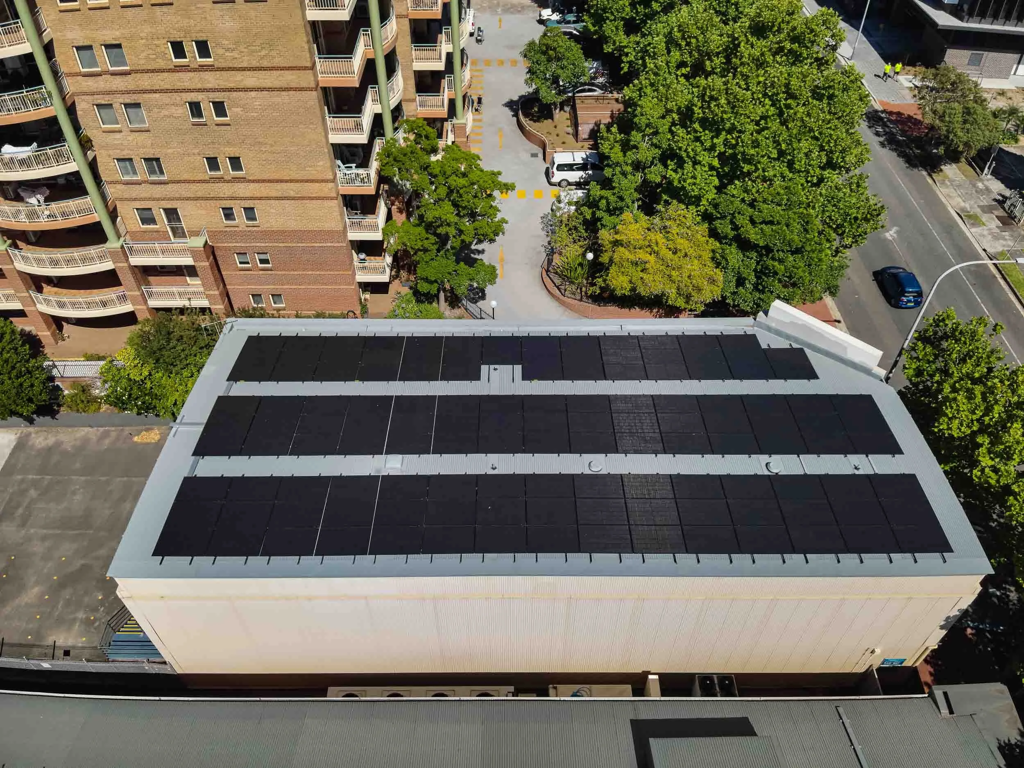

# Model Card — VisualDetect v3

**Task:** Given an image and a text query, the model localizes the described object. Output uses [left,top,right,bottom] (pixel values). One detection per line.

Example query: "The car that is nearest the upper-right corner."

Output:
[873,263,929,309]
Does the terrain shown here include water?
No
